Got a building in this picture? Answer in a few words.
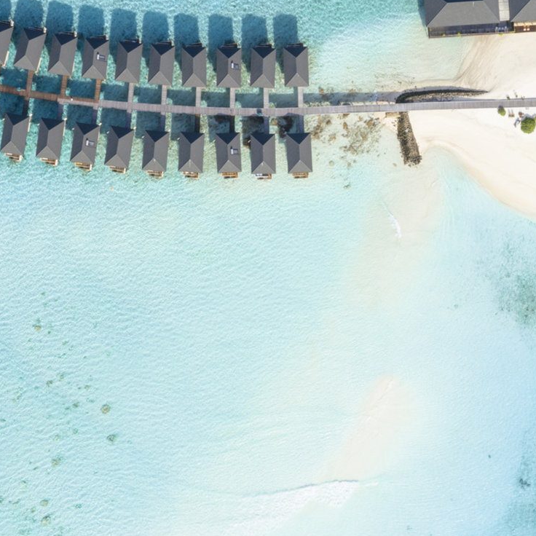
Yes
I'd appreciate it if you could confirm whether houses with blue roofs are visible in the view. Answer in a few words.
No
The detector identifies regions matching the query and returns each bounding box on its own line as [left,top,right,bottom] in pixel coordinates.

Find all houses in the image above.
[178,132,206,179]
[48,28,81,77]
[36,117,68,166]
[82,32,112,81]
[424,0,514,38]
[115,36,146,85]
[147,39,176,86]
[248,41,277,90]
[181,41,208,89]
[214,131,241,179]
[14,24,51,73]
[248,132,275,180]
[214,41,242,89]
[69,122,102,170]
[0,18,18,67]
[282,40,310,88]
[0,113,33,162]
[141,130,171,178]
[105,126,137,174]
[283,131,313,179]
